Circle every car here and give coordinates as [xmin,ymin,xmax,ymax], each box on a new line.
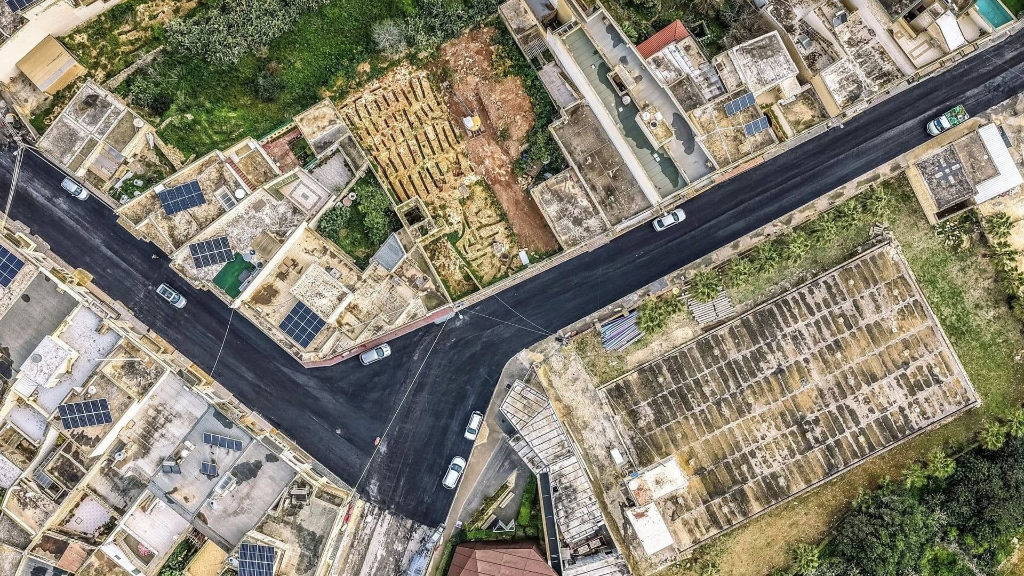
[57,175,89,201]
[443,457,464,490]
[653,207,686,232]
[462,410,484,441]
[358,344,391,365]
[153,282,185,309]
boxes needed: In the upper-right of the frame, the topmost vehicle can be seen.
[930,106,970,132]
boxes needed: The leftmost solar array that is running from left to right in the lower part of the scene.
[58,398,113,429]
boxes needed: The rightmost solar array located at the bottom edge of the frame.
[239,543,275,576]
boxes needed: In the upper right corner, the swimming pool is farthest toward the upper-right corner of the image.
[968,0,1017,34]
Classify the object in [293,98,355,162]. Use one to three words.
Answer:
house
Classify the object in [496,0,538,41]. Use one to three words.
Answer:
house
